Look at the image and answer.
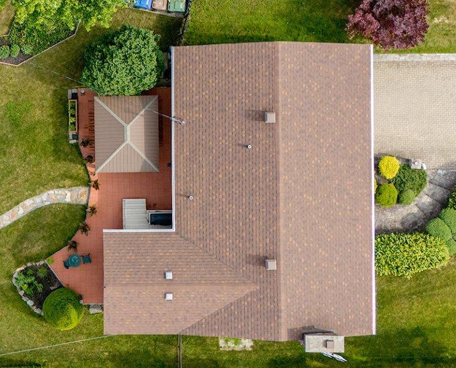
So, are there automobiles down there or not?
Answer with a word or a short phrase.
No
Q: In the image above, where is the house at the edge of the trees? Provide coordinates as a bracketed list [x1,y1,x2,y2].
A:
[104,43,377,353]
